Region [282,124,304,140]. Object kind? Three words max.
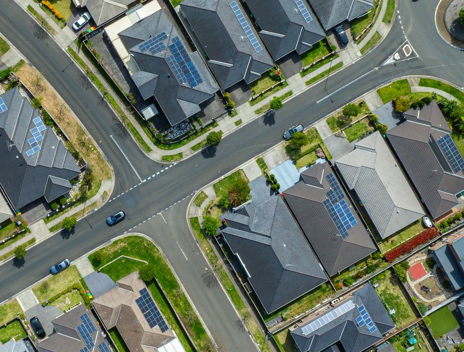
car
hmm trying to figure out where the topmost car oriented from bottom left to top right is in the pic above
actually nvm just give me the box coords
[71,12,91,29]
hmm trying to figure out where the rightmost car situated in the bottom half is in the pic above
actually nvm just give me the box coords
[105,210,127,226]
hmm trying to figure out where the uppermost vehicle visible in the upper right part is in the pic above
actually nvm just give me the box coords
[333,24,348,45]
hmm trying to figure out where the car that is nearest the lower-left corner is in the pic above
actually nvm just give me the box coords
[29,317,45,338]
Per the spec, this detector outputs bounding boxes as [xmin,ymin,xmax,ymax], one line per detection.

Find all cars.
[333,24,348,45]
[29,317,45,338]
[282,124,304,140]
[105,210,127,226]
[50,258,71,273]
[71,12,91,29]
